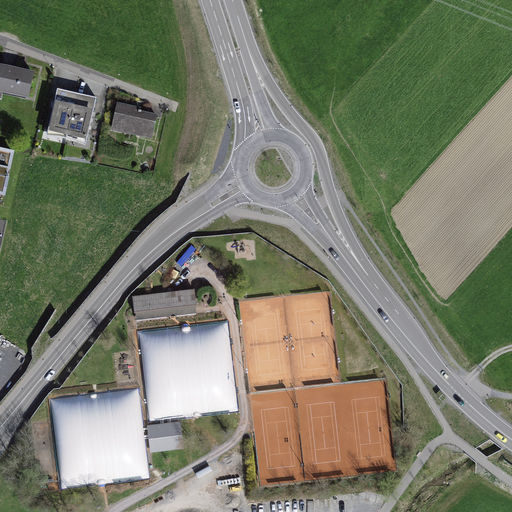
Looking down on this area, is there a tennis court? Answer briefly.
Yes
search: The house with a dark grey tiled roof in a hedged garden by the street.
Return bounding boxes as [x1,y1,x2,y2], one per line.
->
[0,64,34,98]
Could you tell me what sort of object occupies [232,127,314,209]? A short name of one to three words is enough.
roundabout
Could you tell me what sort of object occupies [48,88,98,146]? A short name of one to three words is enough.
house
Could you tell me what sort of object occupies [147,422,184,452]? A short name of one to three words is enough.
building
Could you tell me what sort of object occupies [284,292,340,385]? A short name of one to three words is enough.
tennis court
